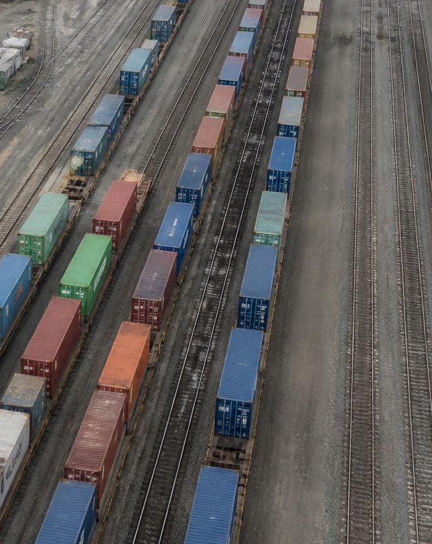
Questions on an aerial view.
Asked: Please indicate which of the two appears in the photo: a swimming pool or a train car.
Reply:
train car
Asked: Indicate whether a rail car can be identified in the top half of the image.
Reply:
Yes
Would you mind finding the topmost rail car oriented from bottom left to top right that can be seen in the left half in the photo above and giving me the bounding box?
[148,10,183,51]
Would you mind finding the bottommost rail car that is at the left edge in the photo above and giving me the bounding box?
[0,399,55,532]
